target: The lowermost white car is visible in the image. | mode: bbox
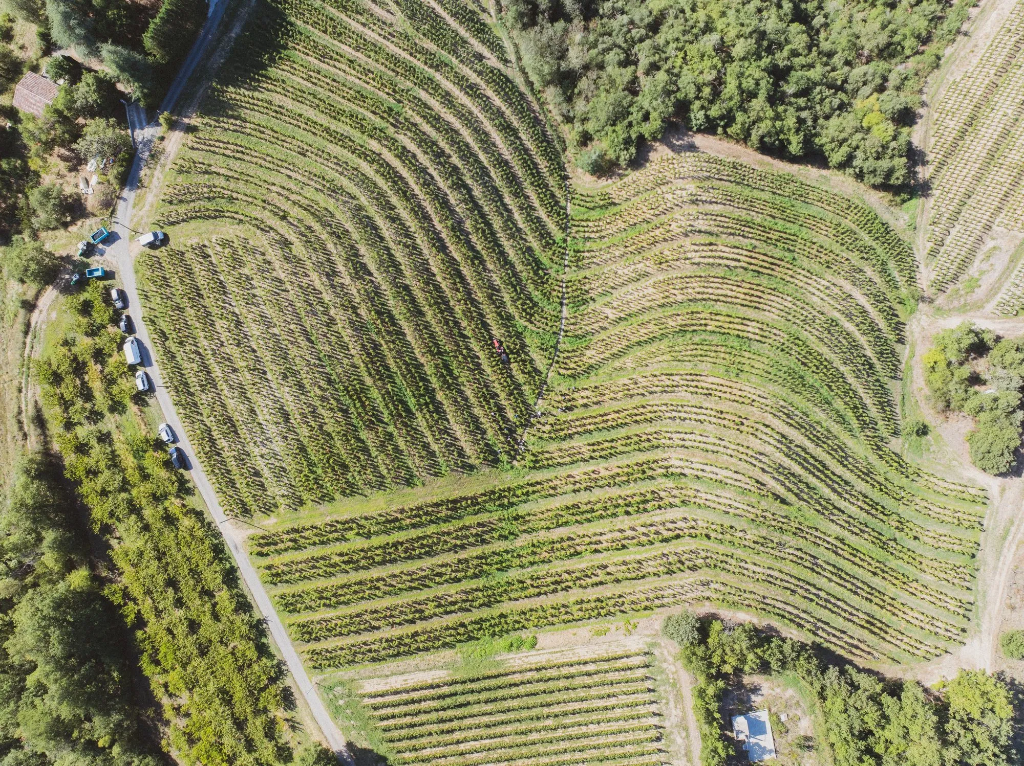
[159,423,174,444]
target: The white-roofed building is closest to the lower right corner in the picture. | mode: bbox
[729,711,748,739]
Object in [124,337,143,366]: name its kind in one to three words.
vehicle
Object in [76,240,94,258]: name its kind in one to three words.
work vehicle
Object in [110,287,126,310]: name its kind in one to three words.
car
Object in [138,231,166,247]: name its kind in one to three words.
vehicle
